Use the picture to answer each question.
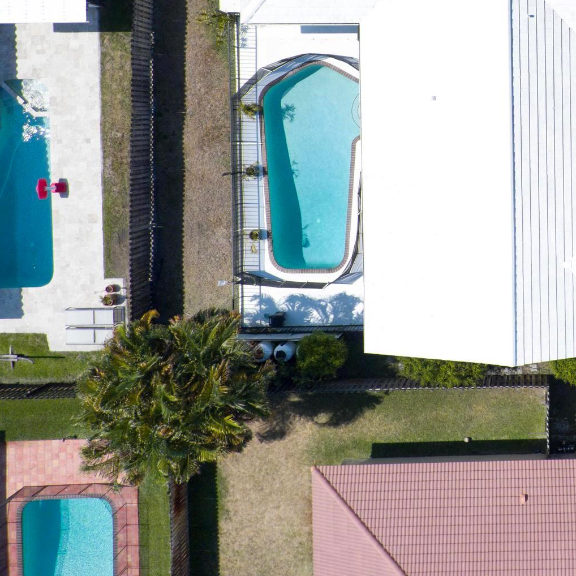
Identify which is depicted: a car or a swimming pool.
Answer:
swimming pool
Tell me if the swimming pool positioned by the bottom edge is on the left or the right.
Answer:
left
